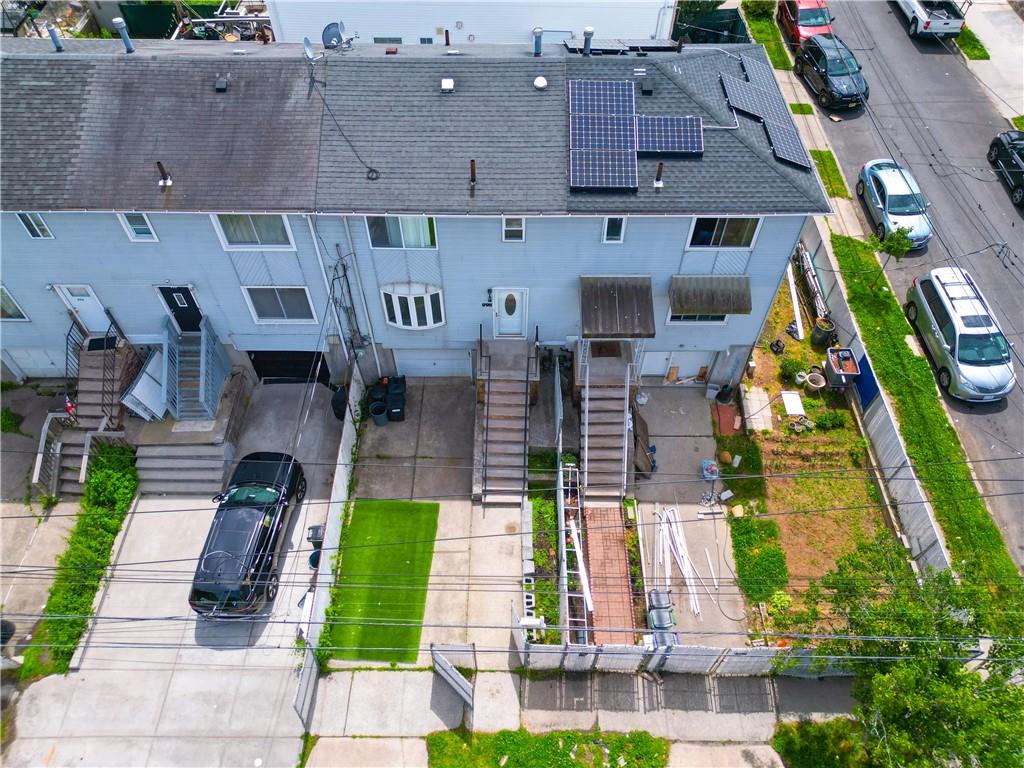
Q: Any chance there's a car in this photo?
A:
Yes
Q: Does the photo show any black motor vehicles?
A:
Yes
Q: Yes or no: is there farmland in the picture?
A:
No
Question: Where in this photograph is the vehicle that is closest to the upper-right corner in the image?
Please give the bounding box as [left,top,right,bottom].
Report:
[885,0,961,36]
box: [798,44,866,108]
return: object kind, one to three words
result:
car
